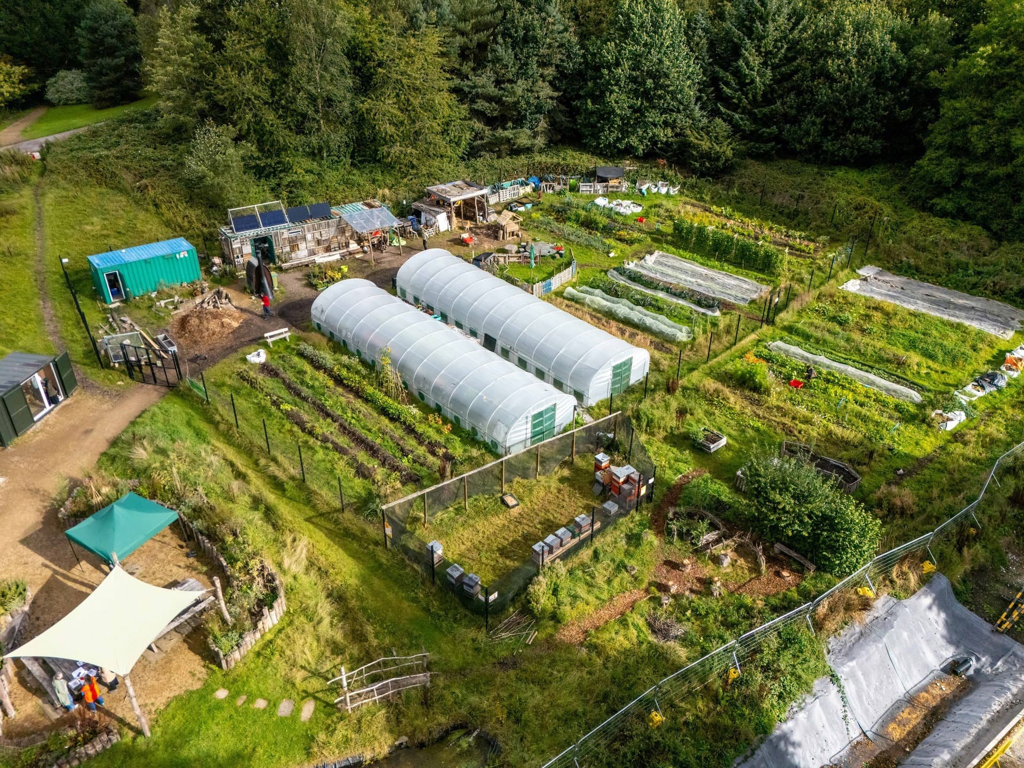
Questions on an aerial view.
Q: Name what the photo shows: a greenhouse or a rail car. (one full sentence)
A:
Of the two, only a greenhouse appears.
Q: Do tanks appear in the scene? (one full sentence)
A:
No, there's no tank here.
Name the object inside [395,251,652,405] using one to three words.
greenhouse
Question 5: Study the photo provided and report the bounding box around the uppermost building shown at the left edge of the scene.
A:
[0,347,81,447]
